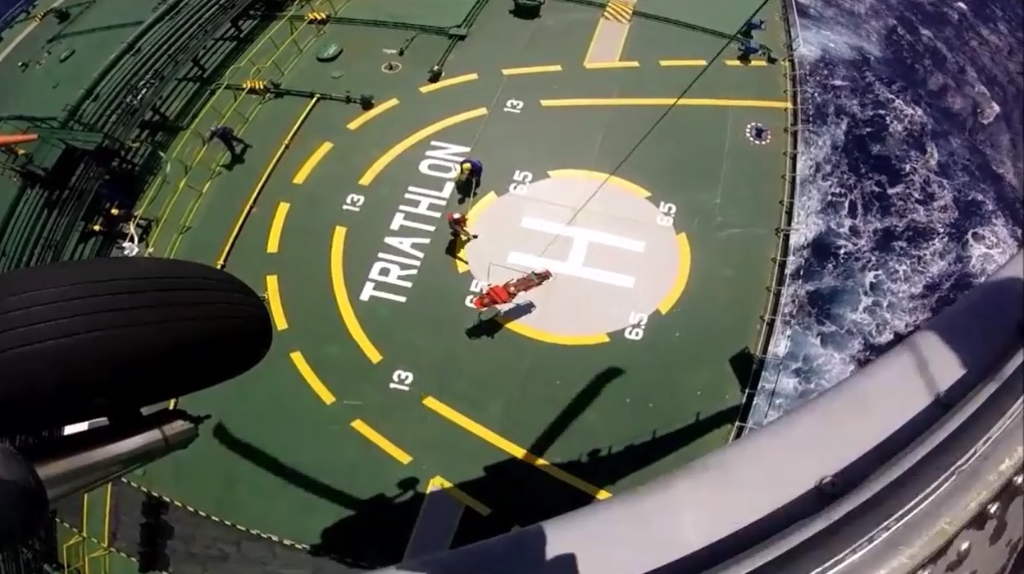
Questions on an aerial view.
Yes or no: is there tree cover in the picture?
No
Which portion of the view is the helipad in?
center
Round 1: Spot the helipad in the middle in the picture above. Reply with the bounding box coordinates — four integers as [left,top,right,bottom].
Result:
[266,0,792,569]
